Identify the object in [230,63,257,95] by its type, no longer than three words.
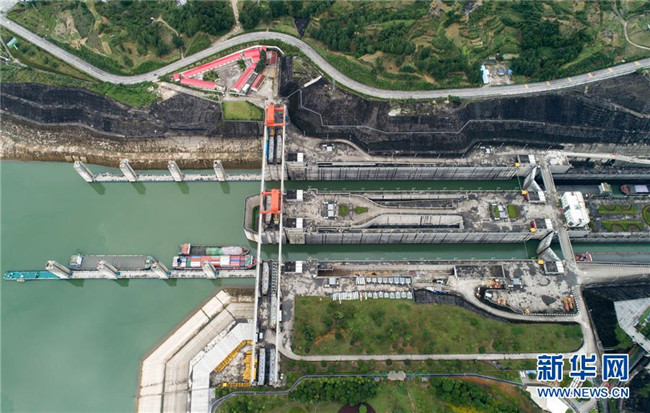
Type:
building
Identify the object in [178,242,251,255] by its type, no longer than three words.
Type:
ship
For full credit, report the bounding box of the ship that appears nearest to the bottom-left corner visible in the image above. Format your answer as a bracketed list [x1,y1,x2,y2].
[2,270,66,282]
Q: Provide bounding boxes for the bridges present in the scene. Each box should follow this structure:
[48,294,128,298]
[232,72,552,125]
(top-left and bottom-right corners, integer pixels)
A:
[542,150,581,275]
